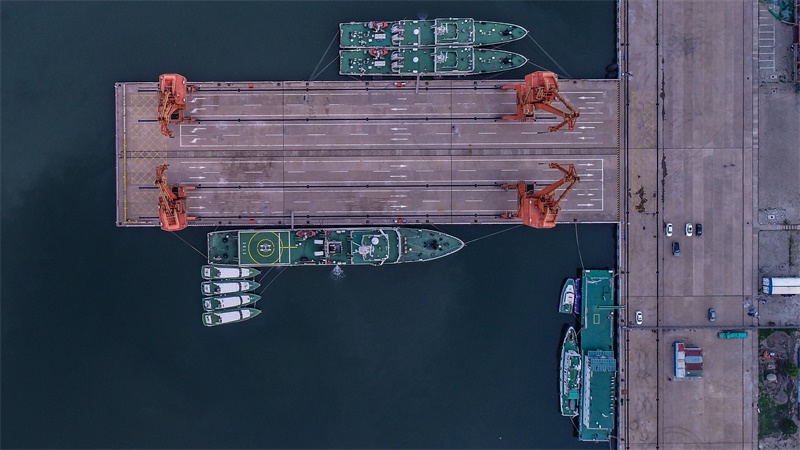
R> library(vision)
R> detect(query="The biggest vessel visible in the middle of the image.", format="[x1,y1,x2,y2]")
[208,228,465,267]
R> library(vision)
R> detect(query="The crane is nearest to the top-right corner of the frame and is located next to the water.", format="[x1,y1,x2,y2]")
[498,72,588,137]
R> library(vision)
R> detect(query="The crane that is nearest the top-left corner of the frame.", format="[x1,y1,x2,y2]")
[155,73,198,139]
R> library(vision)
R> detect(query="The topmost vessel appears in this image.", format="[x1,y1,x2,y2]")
[340,18,529,48]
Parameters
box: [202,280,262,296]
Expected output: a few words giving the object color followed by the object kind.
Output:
white boat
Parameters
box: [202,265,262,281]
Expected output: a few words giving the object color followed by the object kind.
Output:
white boat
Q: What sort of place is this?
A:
port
